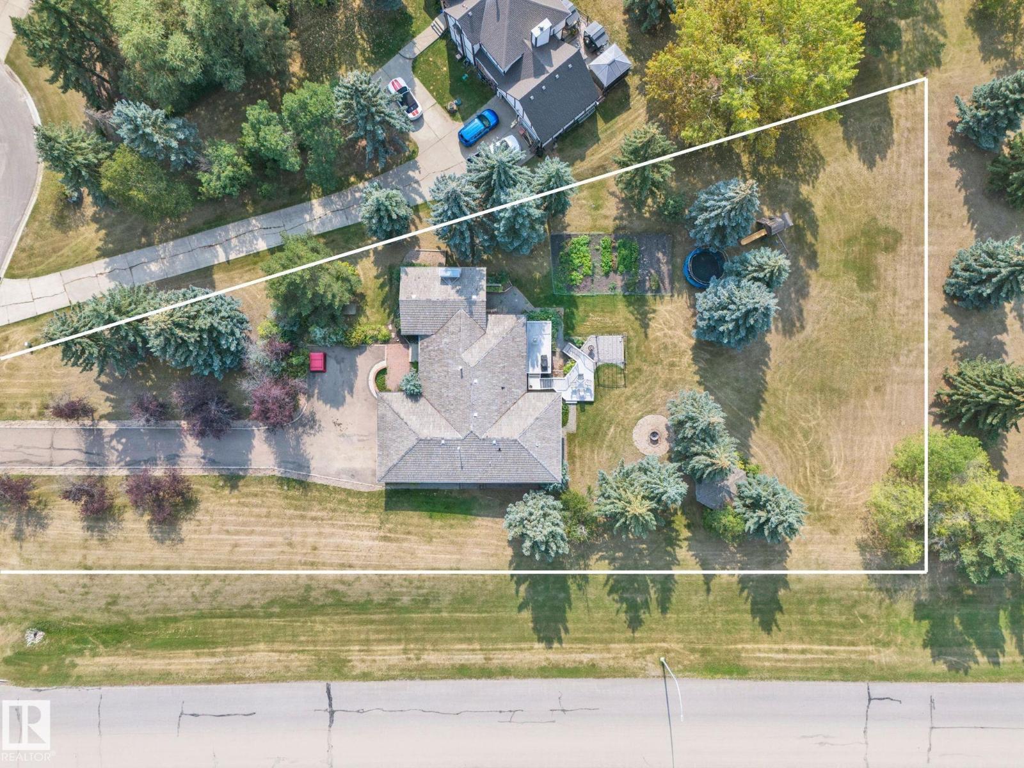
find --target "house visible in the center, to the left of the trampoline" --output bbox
[376,265,563,483]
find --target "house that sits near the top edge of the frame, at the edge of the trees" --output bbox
[442,0,603,147]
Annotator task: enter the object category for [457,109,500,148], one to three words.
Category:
car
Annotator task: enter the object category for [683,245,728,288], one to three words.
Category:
trampoline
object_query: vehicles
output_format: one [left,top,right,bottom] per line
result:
[457,109,500,148]
[387,77,425,123]
[494,136,520,158]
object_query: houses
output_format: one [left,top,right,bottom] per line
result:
[376,265,563,483]
[442,0,603,147]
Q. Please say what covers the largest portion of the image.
grass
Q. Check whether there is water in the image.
No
